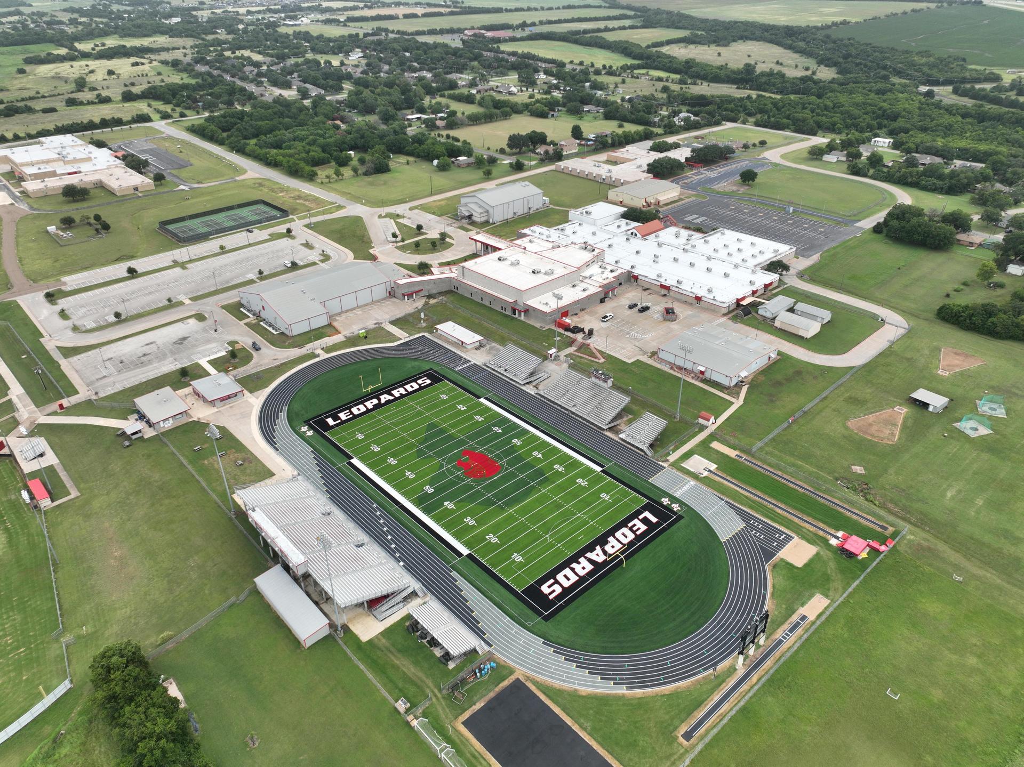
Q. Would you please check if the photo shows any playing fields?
Yes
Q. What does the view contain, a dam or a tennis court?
tennis court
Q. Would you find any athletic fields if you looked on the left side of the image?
Yes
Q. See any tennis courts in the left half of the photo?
Yes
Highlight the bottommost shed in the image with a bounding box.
[253,563,330,648]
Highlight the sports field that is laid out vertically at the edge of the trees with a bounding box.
[0,458,70,744]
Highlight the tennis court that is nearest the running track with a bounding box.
[164,204,282,233]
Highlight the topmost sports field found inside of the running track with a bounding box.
[326,380,647,591]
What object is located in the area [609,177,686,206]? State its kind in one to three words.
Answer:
building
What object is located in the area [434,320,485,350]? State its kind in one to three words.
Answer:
building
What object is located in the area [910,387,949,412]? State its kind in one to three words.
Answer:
shed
